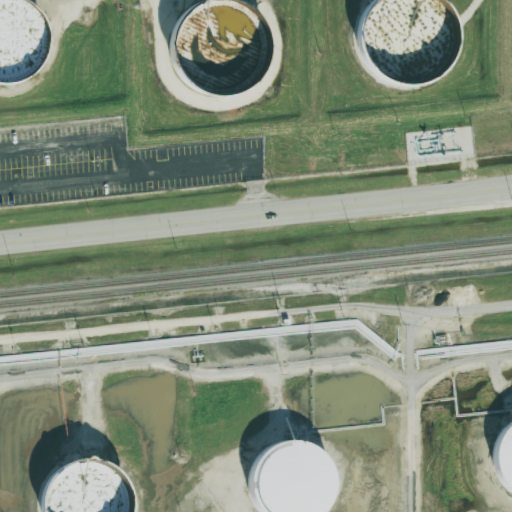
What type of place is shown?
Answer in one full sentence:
This looks like an industrial area.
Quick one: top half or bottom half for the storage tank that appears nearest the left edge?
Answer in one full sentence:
It is in the top half that the storage tank that appears nearest the left edge appears.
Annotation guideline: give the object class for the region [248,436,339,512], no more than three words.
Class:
storage tank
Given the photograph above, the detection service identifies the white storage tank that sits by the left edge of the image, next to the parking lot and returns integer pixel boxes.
[0,0,52,86]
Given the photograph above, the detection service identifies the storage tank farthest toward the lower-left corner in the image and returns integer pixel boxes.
[38,456,138,512]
